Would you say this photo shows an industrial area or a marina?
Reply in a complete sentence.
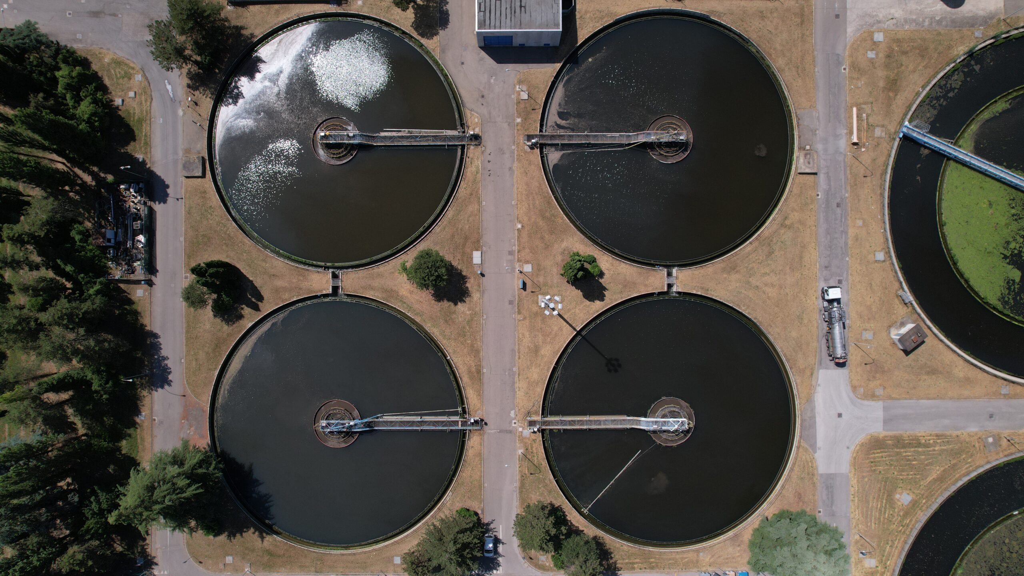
It's an industrial area.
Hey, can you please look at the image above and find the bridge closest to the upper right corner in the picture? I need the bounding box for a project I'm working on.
[896,118,1024,190]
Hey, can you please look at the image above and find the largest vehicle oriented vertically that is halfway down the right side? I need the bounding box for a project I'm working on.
[820,285,847,362]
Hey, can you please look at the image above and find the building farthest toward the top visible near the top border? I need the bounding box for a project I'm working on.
[475,0,562,49]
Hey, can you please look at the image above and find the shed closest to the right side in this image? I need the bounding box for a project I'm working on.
[890,323,929,353]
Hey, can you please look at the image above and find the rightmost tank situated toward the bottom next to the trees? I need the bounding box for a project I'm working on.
[541,291,802,552]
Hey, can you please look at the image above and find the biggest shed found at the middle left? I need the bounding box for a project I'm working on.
[91,229,119,246]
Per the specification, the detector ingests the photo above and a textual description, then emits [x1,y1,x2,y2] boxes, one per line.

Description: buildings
[890,323,929,353]
[91,229,119,246]
[475,0,562,49]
